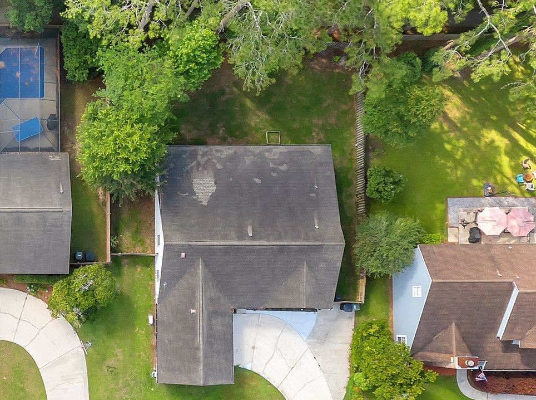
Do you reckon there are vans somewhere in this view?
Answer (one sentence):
No, no van can be seen from above.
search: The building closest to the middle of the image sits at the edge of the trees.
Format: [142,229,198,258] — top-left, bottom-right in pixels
[155,144,350,386]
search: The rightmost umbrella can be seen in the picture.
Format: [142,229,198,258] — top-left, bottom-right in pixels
[506,208,534,235]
